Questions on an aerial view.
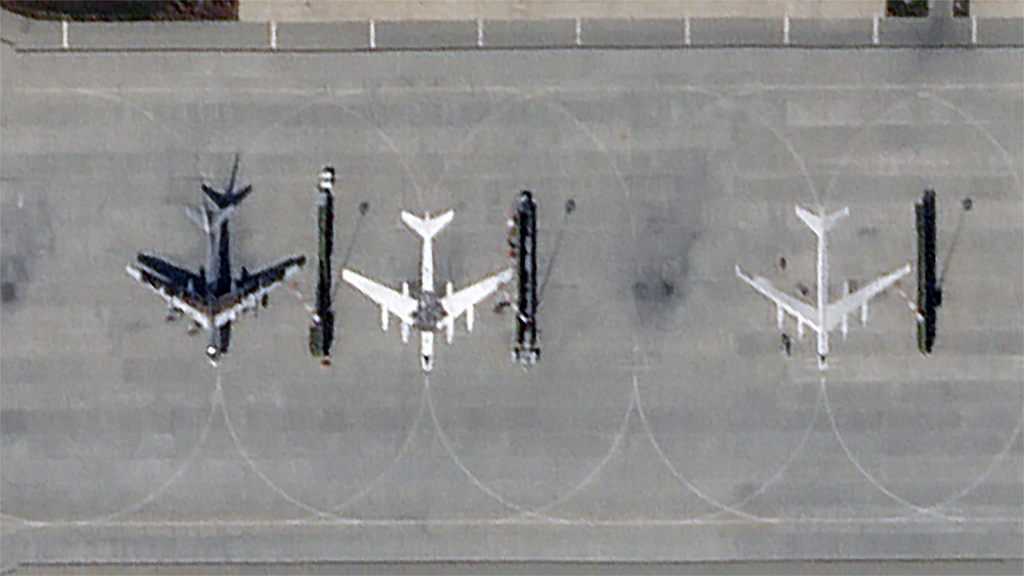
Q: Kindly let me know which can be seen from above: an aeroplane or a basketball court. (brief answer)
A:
aeroplane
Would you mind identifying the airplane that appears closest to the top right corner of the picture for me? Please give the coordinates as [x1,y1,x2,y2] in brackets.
[736,205,910,368]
